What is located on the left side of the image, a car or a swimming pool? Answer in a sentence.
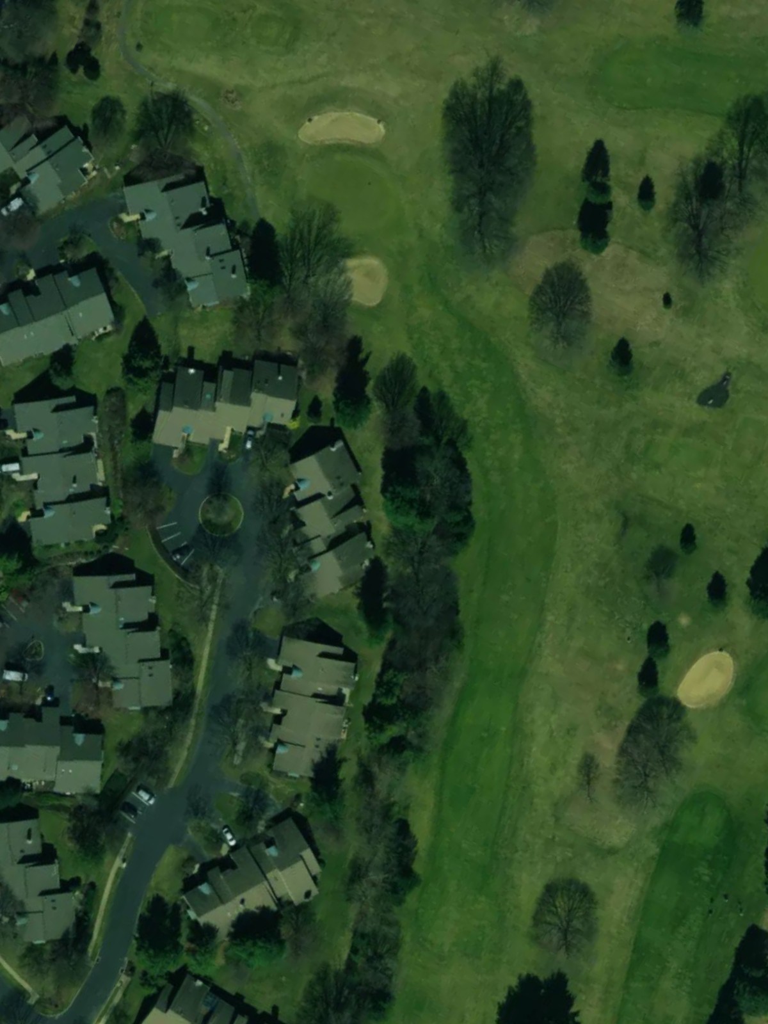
The feature located on the left side of the image is a car.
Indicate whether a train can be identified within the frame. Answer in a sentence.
No, I find no train anywhere in the image.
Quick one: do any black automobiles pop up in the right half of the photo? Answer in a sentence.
No, the scene shows no black automobile in the right half of the photo.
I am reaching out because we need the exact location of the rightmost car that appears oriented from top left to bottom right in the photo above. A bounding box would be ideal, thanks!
[221,825,238,847]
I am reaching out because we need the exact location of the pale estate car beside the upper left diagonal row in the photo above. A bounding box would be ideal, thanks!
[1,196,22,215]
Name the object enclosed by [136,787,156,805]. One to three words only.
car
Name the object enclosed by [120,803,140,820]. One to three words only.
car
